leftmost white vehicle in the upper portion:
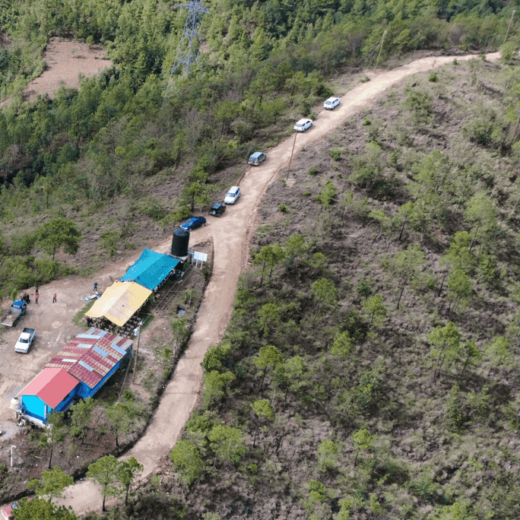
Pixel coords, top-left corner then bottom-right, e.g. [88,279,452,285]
[224,184,243,201]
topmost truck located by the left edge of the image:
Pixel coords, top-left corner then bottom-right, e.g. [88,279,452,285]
[0,300,28,329]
